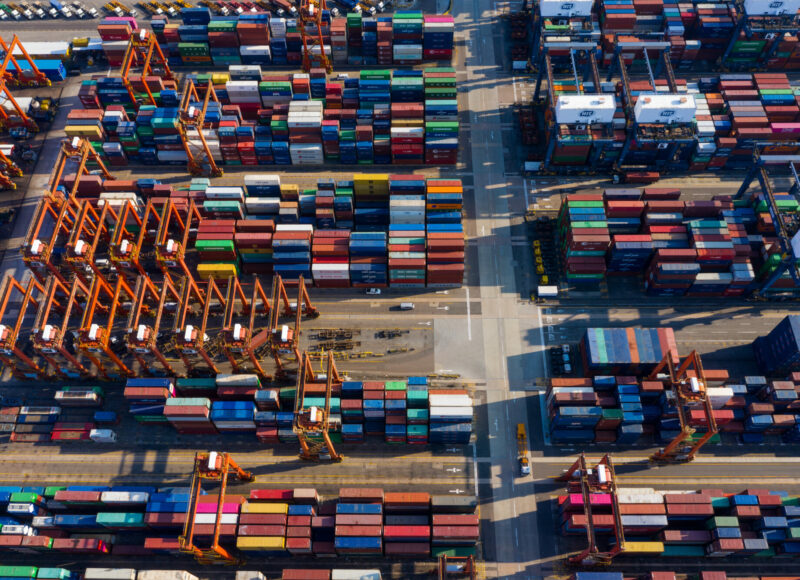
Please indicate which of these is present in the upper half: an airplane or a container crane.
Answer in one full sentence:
The one visible in the upper half is a container crane.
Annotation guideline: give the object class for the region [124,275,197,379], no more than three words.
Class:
container crane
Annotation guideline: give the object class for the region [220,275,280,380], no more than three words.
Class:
container crane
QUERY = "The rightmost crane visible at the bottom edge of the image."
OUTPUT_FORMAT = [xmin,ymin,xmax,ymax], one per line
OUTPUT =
[557,454,624,570]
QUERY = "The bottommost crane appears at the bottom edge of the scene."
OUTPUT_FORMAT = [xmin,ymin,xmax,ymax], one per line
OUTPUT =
[430,556,478,580]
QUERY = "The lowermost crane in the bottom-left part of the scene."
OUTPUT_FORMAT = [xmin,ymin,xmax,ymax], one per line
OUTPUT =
[177,450,252,567]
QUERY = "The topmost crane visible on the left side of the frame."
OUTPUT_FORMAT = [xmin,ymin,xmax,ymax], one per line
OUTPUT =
[298,0,334,67]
